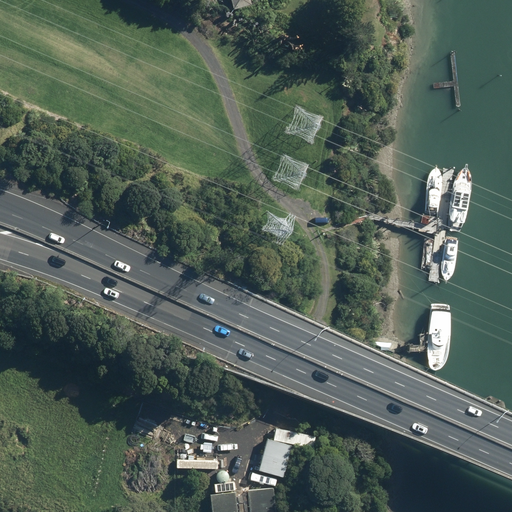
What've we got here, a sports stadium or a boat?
boat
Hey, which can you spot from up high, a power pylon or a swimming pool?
power pylon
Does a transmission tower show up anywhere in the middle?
Yes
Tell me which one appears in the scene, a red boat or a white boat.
white boat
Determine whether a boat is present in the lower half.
Yes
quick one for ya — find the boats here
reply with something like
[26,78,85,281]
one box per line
[426,300,452,378]
[448,164,472,232]
[426,166,444,218]
[442,234,460,284]
[422,238,436,270]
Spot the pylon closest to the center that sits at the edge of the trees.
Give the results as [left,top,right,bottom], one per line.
[260,208,300,249]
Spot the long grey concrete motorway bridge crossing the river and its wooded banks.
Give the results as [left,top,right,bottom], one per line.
[222,296,512,488]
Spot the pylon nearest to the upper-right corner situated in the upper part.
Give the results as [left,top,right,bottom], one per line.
[285,104,326,147]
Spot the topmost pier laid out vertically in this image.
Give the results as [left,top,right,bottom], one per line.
[433,49,462,110]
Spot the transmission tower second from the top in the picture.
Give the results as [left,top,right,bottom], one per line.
[272,152,312,192]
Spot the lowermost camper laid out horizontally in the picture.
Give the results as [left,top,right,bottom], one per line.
[250,473,280,486]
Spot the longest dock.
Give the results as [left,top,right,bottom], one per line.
[420,168,456,284]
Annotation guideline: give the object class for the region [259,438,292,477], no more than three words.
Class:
shed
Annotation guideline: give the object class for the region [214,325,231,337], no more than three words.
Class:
vehicle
